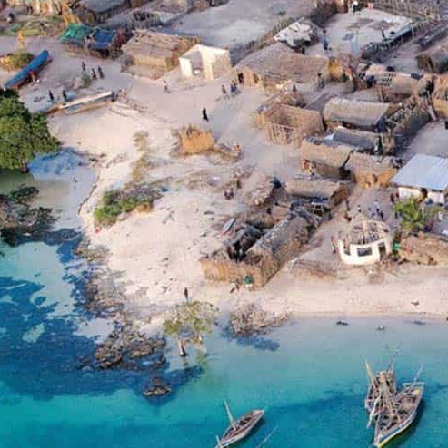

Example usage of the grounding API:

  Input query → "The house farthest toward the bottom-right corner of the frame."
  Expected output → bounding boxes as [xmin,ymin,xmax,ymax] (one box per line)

[337,218,394,263]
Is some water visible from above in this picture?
Yes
